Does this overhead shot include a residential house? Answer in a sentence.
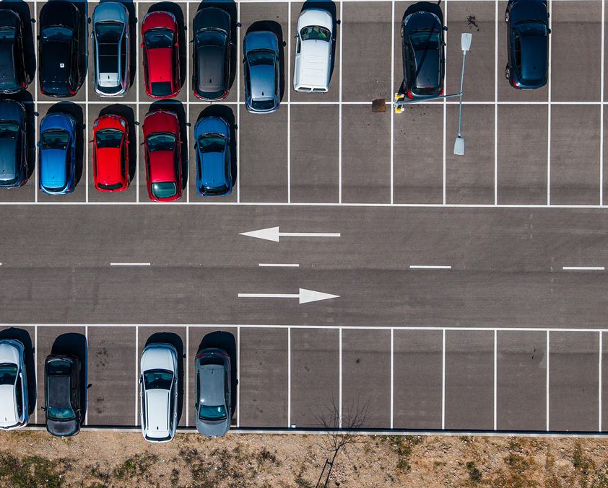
No, this view has no residential house in it.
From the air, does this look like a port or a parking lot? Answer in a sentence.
This image shows a parking lot.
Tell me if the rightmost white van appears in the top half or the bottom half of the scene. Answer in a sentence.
Seen from above, the rightmost white van lies in the top half of the view.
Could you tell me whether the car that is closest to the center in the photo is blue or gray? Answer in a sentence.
The car that is closest to the center is blue.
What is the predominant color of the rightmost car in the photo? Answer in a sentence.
In this view, the rightmost car is black.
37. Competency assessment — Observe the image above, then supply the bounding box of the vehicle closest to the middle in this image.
[191,116,238,196]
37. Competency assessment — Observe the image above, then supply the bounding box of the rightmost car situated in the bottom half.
[188,347,236,436]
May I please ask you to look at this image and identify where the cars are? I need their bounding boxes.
[86,3,134,98]
[400,12,449,98]
[504,0,556,90]
[138,12,184,98]
[88,115,133,192]
[188,347,236,436]
[33,113,79,195]
[37,355,83,436]
[0,338,30,431]
[34,2,82,98]
[0,99,30,188]
[188,8,235,100]
[135,341,182,443]
[140,110,186,201]
[238,32,284,114]
[0,10,29,94]
[191,116,238,196]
